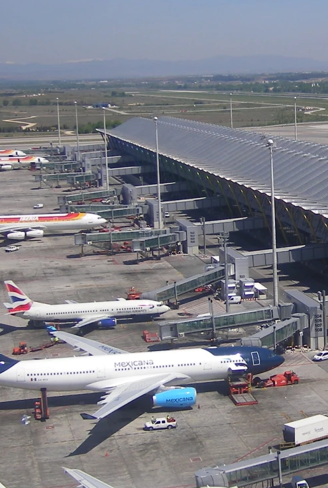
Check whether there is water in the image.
No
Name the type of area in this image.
airport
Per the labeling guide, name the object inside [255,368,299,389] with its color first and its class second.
red work vehicle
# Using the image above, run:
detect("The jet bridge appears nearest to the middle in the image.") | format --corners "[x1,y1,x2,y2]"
[131,232,189,261]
